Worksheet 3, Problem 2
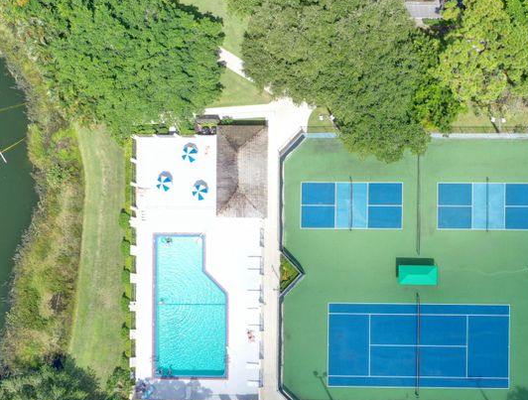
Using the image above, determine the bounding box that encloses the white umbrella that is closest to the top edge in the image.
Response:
[180,145,198,161]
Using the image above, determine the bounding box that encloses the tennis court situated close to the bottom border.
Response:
[327,295,510,395]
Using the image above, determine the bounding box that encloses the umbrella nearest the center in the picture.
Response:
[190,181,208,199]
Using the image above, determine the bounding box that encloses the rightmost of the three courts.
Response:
[437,177,528,232]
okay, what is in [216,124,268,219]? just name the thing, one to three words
building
